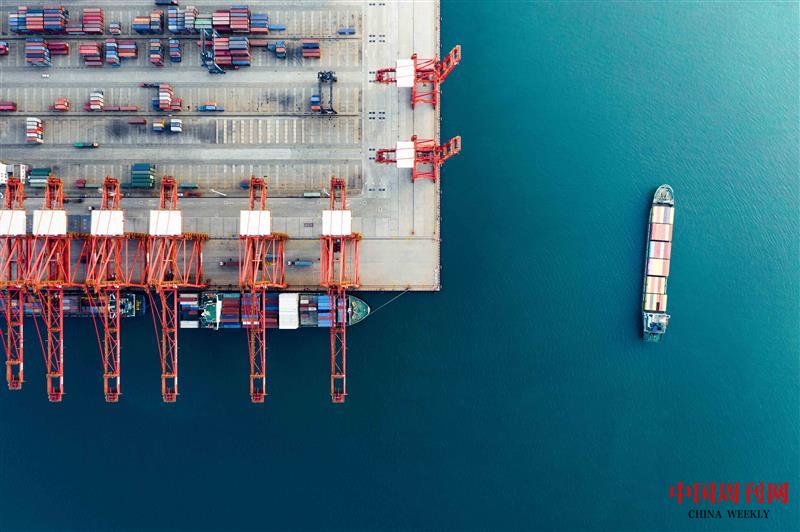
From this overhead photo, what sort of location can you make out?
port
